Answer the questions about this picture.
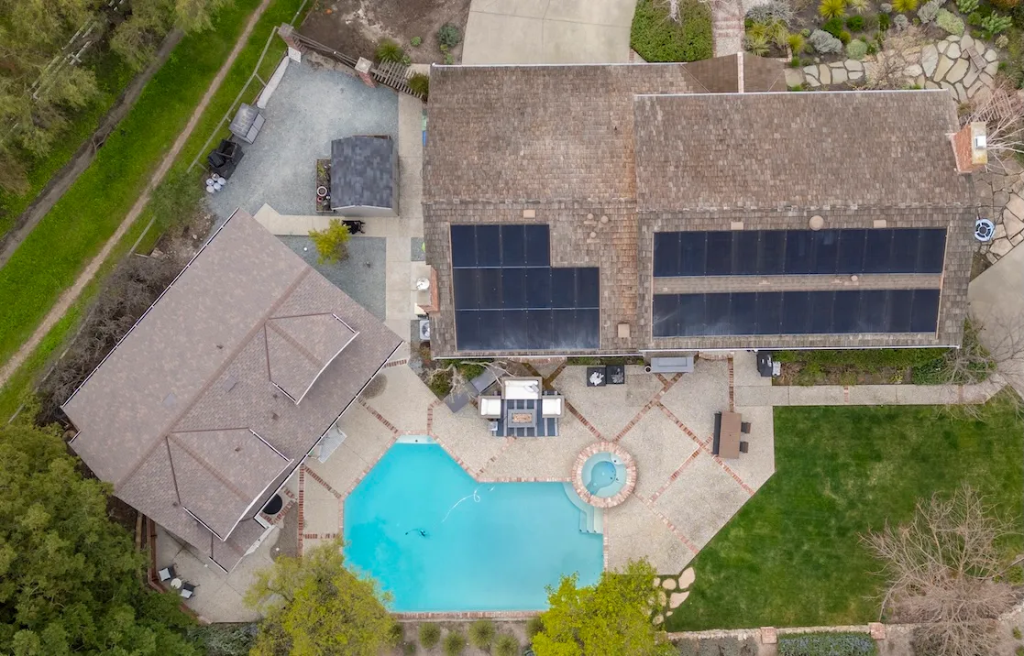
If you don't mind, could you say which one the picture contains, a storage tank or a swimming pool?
swimming pool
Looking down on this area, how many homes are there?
2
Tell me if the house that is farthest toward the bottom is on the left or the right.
left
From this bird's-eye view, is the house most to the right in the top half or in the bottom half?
top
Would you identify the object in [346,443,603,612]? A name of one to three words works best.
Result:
swimming pool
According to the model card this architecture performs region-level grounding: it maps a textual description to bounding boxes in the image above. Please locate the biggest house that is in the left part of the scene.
[59,208,404,573]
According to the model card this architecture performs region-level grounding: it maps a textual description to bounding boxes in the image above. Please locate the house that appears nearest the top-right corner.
[410,51,990,359]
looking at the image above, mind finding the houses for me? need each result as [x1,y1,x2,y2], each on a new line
[410,51,990,359]
[59,208,404,573]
